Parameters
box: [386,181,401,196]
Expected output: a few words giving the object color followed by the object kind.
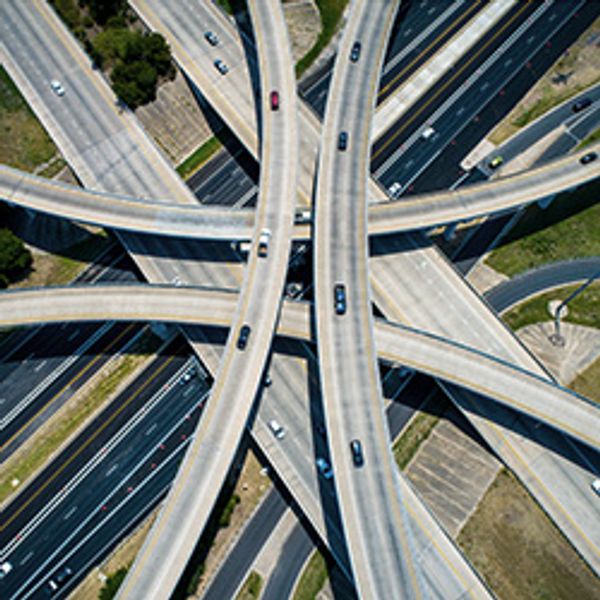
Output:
white car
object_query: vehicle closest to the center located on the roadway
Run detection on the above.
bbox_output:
[284,279,302,298]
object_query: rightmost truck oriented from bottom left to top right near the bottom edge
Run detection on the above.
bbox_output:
[47,565,76,594]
